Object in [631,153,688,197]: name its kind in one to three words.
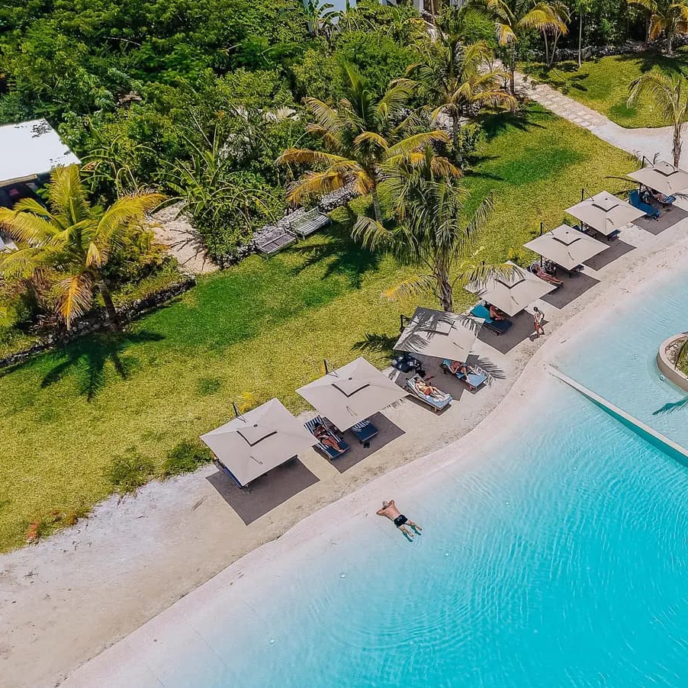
umbrella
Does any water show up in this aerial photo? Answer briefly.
Yes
